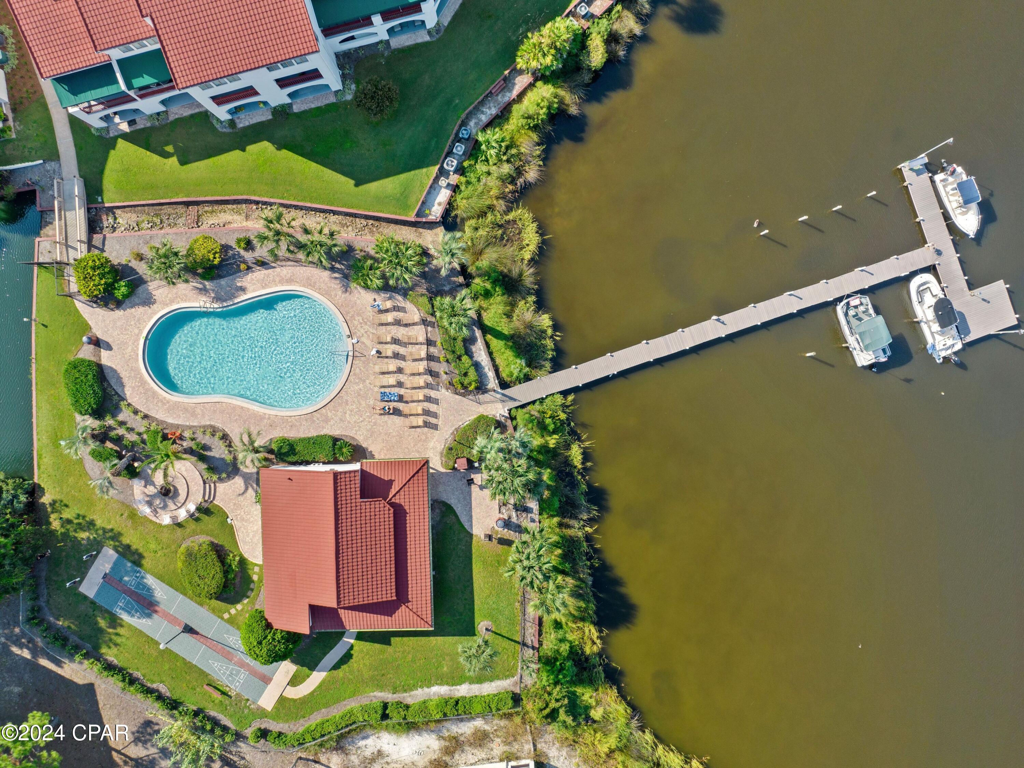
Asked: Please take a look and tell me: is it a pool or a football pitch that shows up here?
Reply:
pool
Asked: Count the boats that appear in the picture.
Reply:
three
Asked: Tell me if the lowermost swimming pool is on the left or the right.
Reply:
left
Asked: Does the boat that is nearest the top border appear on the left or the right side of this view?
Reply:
right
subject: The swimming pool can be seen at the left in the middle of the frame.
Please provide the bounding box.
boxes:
[139,285,356,416]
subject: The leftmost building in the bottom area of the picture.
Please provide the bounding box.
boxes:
[259,456,436,636]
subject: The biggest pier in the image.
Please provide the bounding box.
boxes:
[497,168,1022,412]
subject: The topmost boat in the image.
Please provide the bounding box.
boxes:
[934,155,983,236]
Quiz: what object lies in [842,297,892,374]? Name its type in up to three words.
boat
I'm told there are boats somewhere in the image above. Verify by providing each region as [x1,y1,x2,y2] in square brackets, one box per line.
[914,273,966,374]
[934,155,983,236]
[842,297,892,374]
